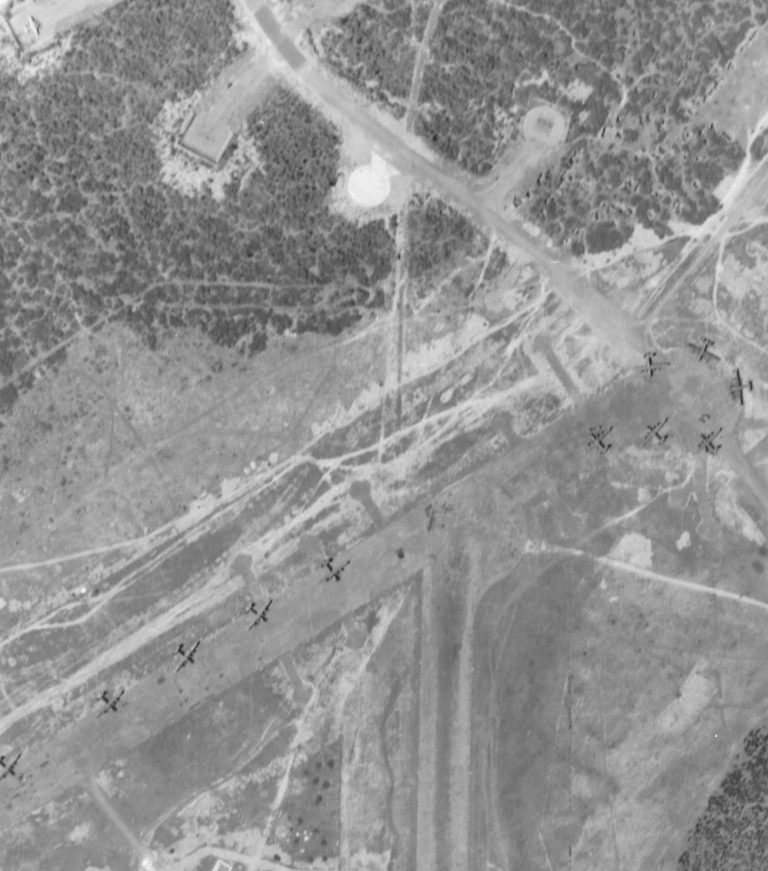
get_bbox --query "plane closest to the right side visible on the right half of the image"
[731,369,753,406]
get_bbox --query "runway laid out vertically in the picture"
[416,541,481,871]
